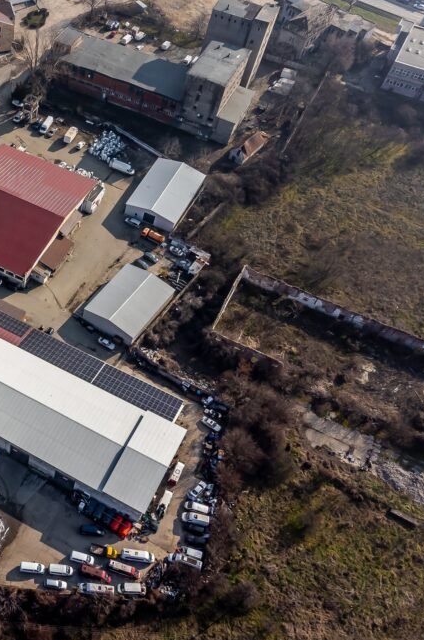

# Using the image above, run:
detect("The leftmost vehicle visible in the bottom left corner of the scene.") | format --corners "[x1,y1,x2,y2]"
[20,561,44,577]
